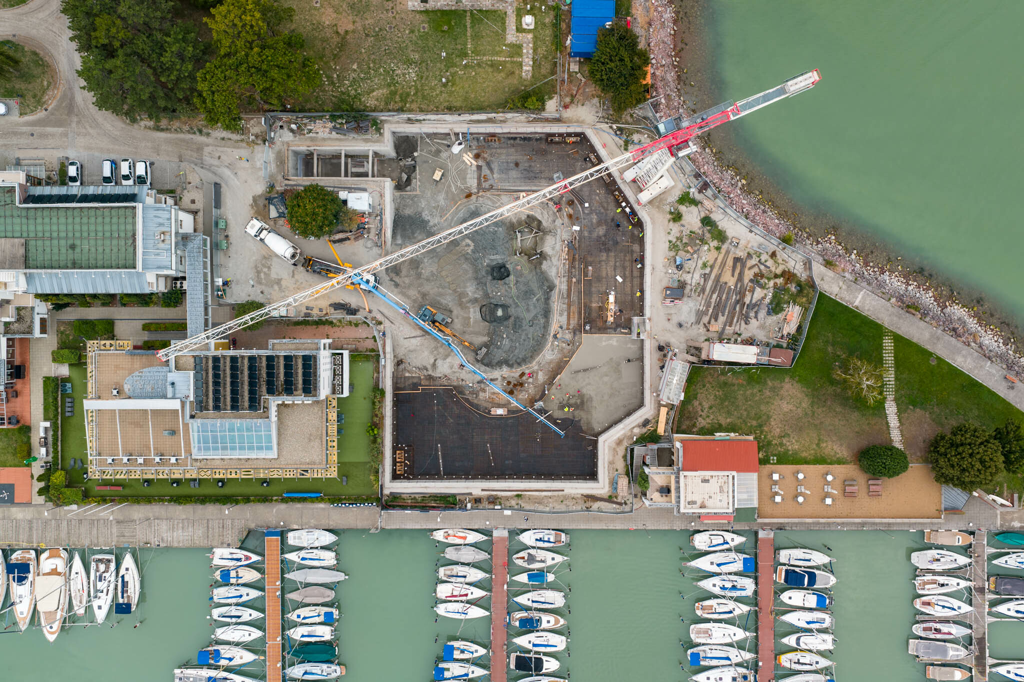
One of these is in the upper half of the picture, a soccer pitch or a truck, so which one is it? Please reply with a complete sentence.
Visible in the upper half of the picture is a truck.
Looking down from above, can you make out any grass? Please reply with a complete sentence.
Yes, grass can be seen from above here.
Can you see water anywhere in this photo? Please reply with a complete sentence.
Yes, there's water in this view.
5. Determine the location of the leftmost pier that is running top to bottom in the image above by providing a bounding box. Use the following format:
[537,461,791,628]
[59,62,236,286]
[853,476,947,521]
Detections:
[259,526,290,682]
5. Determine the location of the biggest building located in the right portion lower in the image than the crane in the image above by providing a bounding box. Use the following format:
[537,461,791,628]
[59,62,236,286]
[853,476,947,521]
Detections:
[633,432,759,522]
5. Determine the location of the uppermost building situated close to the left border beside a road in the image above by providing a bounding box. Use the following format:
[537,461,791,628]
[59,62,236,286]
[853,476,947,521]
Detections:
[0,166,205,293]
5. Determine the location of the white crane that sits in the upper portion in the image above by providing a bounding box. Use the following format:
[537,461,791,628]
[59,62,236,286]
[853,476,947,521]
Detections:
[159,64,827,361]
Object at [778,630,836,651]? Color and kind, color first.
white boat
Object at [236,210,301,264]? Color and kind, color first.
white truck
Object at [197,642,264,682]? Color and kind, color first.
white boat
